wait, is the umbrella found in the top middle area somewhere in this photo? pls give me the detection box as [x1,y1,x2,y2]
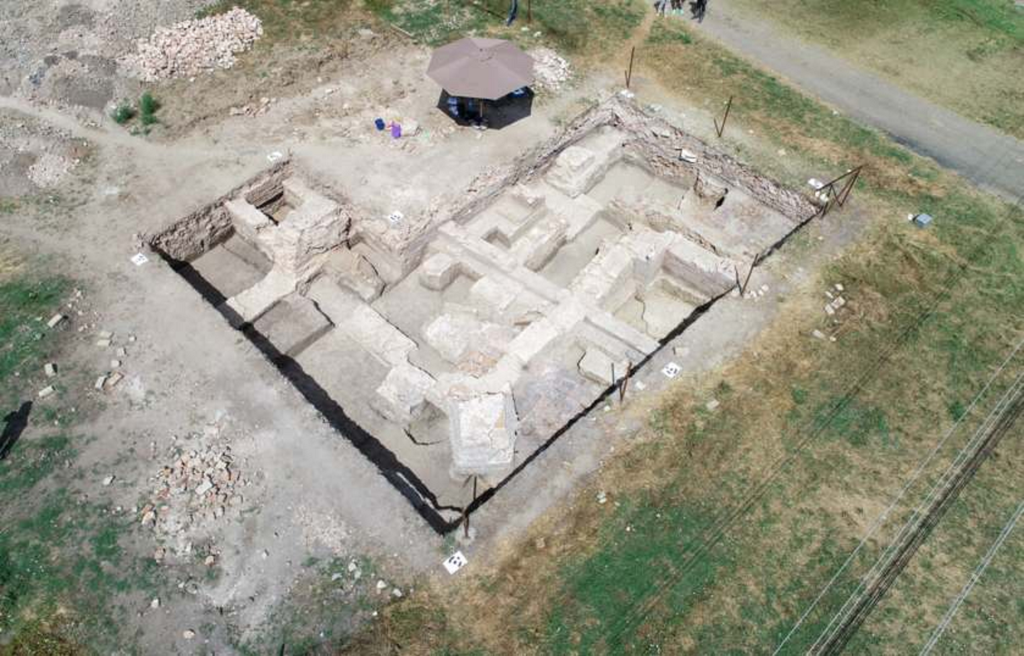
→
[424,36,537,133]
